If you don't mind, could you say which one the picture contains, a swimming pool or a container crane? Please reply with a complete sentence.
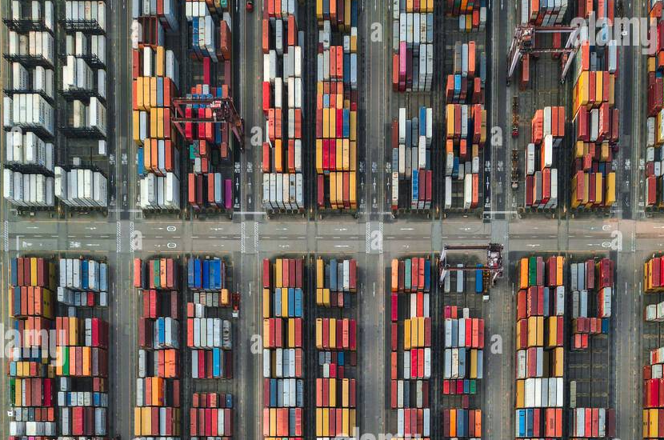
It is a container crane that can be seen here.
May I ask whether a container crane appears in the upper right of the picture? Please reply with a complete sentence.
Yes, a container crane can be seen in the upper right of the picture.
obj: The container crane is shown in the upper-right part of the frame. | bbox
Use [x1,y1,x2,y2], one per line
[506,26,578,80]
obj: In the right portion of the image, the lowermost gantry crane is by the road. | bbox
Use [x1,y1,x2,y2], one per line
[437,246,506,285]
